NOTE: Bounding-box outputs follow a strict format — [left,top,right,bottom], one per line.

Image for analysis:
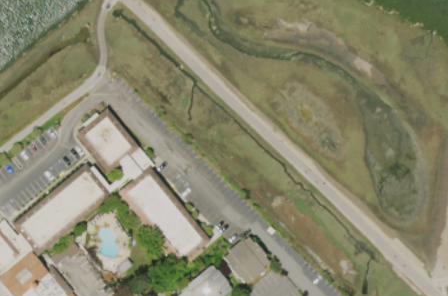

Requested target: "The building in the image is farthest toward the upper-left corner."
[78,108,140,174]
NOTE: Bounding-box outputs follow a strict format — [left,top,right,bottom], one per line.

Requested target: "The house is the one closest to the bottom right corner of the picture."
[224,238,270,284]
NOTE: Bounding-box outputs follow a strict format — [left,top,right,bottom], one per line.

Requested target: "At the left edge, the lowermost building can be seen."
[0,254,74,296]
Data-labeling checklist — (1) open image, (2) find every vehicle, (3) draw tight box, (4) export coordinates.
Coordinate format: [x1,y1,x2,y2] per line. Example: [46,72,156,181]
[38,136,48,146]
[228,235,238,244]
[62,156,72,166]
[70,150,79,160]
[220,224,230,232]
[48,130,56,139]
[158,160,167,169]
[215,219,224,228]
[44,171,54,182]
[20,152,29,161]
[312,276,322,286]
[75,146,84,156]
[4,166,14,174]
[180,188,192,198]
